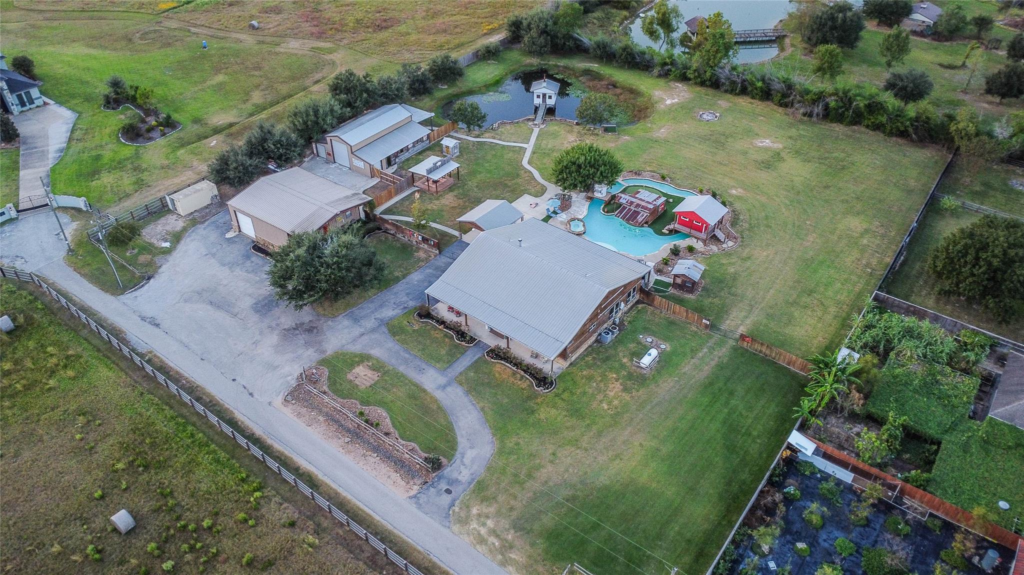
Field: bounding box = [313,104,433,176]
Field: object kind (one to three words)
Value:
barn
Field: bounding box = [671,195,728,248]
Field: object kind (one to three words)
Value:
building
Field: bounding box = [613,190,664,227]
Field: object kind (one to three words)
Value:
shed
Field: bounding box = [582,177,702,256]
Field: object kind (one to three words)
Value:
swimming pool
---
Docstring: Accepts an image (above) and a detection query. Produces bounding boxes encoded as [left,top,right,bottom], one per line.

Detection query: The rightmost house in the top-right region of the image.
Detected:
[883,2,941,40]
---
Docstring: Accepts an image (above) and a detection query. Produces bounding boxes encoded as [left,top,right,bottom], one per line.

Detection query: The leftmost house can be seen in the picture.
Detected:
[0,76,43,117]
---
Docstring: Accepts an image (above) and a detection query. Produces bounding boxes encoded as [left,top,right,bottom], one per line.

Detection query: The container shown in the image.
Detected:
[163,179,219,216]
